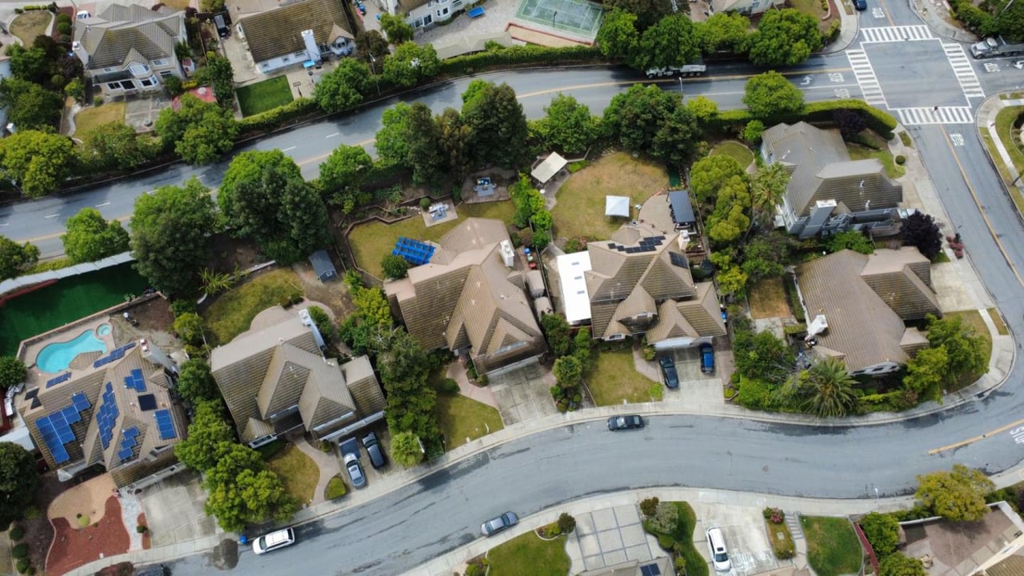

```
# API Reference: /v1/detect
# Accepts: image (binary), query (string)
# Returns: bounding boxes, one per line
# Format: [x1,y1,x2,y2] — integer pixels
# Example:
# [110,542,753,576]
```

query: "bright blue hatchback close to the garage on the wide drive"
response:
[700,344,716,375]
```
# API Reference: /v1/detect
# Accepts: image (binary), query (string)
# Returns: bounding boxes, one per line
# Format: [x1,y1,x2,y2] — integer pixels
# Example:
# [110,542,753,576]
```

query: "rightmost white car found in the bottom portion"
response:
[705,527,730,571]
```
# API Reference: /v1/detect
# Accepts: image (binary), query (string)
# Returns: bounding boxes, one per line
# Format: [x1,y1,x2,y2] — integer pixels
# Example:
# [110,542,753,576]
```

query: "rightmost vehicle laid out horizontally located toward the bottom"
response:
[607,414,645,432]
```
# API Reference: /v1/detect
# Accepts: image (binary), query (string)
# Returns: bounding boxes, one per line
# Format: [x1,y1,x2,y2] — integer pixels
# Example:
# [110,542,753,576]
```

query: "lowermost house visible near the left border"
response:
[17,337,189,490]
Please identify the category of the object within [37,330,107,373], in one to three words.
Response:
swimming pool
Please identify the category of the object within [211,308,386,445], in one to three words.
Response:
house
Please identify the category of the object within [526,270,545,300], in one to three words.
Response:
shed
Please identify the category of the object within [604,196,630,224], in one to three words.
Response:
tent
